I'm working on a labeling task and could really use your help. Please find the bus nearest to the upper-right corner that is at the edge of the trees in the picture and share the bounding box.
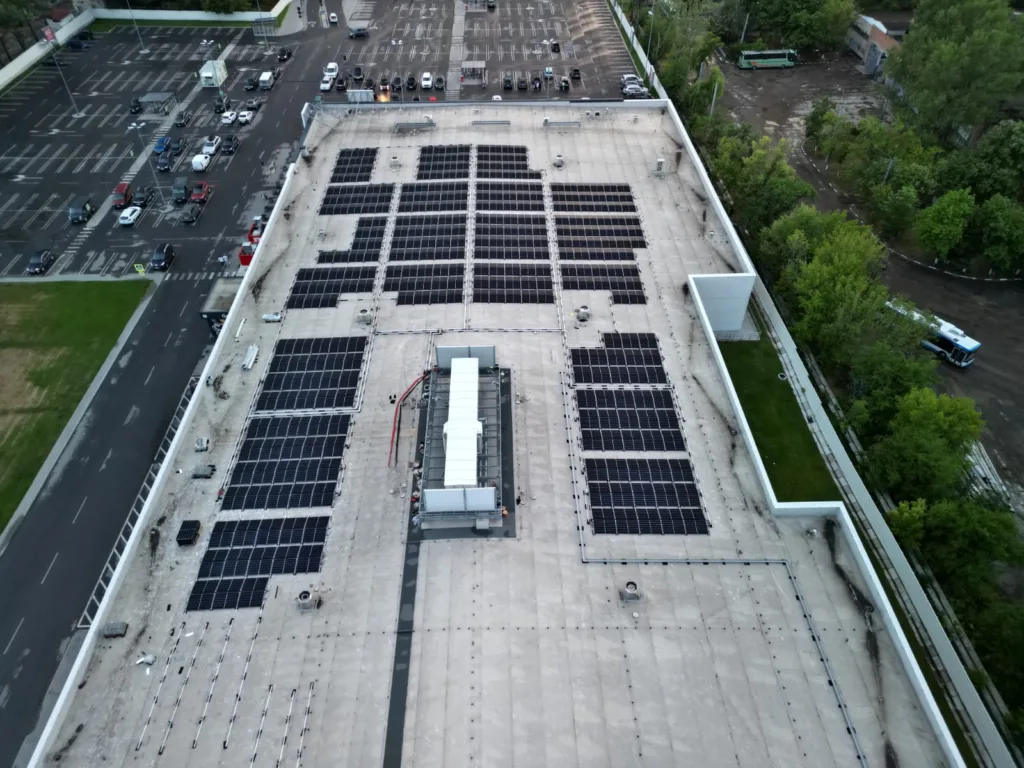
[738,46,801,67]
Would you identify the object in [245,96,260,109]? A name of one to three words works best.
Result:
vehicle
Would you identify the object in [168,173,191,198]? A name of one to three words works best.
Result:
vehicle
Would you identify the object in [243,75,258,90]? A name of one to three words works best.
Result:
car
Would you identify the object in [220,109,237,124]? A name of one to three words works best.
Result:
car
